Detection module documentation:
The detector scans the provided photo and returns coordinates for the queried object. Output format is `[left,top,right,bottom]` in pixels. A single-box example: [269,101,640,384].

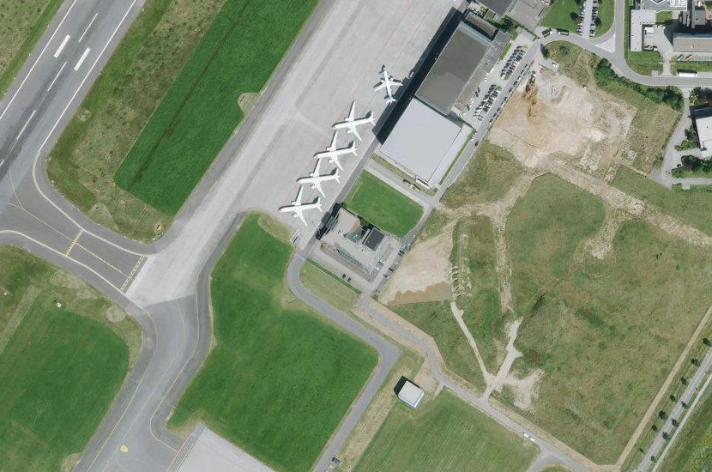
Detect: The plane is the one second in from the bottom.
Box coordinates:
[297,158,340,197]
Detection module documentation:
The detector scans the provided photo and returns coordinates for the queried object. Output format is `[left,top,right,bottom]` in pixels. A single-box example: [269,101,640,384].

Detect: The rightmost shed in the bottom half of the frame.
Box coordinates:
[398,380,425,408]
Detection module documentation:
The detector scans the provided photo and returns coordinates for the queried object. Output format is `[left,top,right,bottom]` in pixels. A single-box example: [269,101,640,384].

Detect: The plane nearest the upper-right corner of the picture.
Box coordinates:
[374,68,403,102]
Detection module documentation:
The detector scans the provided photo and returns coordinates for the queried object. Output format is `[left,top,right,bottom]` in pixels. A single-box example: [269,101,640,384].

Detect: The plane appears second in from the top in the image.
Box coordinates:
[333,102,376,142]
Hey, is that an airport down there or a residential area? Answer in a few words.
airport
